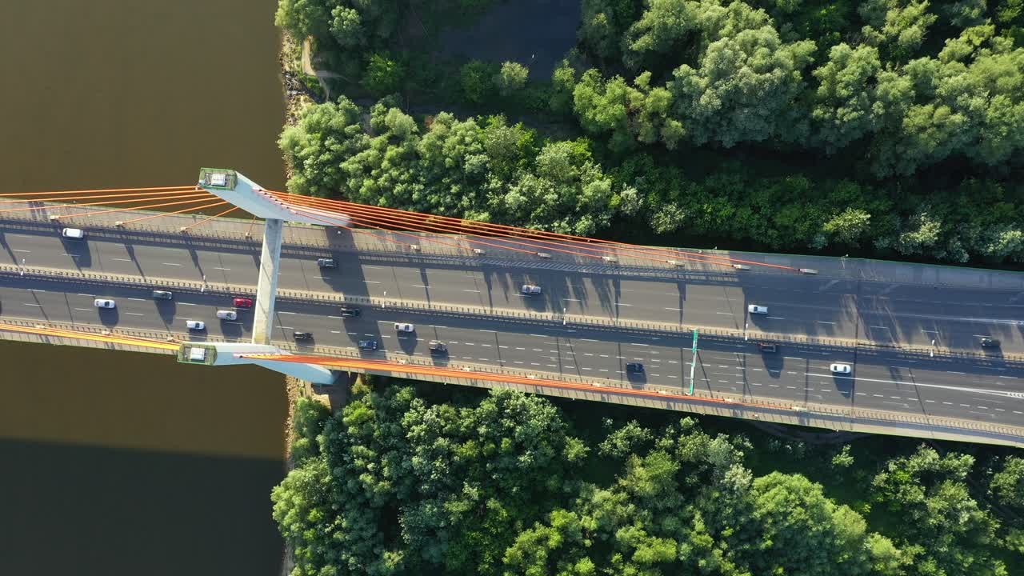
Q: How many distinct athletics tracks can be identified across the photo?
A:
0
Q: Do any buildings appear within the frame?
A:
No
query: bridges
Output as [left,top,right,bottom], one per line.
[0,167,1024,448]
